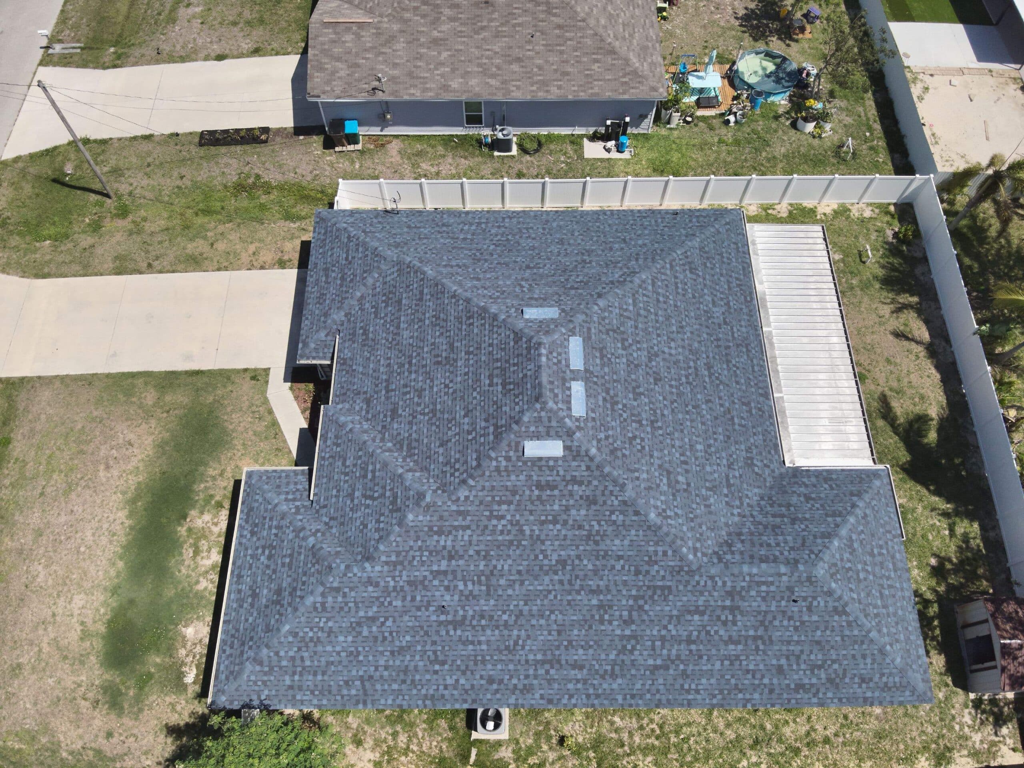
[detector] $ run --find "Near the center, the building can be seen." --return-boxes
[203,193,941,709]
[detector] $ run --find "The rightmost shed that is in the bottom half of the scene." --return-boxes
[951,591,1024,699]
